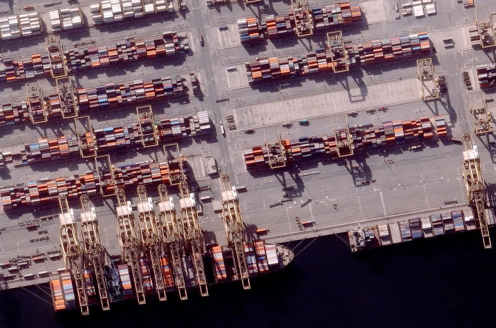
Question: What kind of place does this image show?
port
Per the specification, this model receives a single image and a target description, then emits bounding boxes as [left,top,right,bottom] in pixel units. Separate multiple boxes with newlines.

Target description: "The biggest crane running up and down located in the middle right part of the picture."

[459,126,491,247]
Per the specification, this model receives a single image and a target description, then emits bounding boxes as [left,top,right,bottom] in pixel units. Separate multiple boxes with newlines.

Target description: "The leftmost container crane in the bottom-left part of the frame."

[58,193,89,316]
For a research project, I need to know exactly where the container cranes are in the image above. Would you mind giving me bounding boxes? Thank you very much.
[459,126,491,247]
[327,31,350,76]
[79,190,109,312]
[475,6,496,51]
[75,114,97,160]
[26,82,48,128]
[163,143,185,189]
[56,77,78,123]
[136,105,159,151]
[469,89,492,135]
[45,35,67,81]
[332,115,355,161]
[264,126,286,172]
[156,177,187,299]
[177,174,208,295]
[95,154,118,199]
[291,0,313,40]
[136,180,167,302]
[116,184,146,306]
[416,57,439,103]
[58,193,89,316]
[219,167,251,288]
